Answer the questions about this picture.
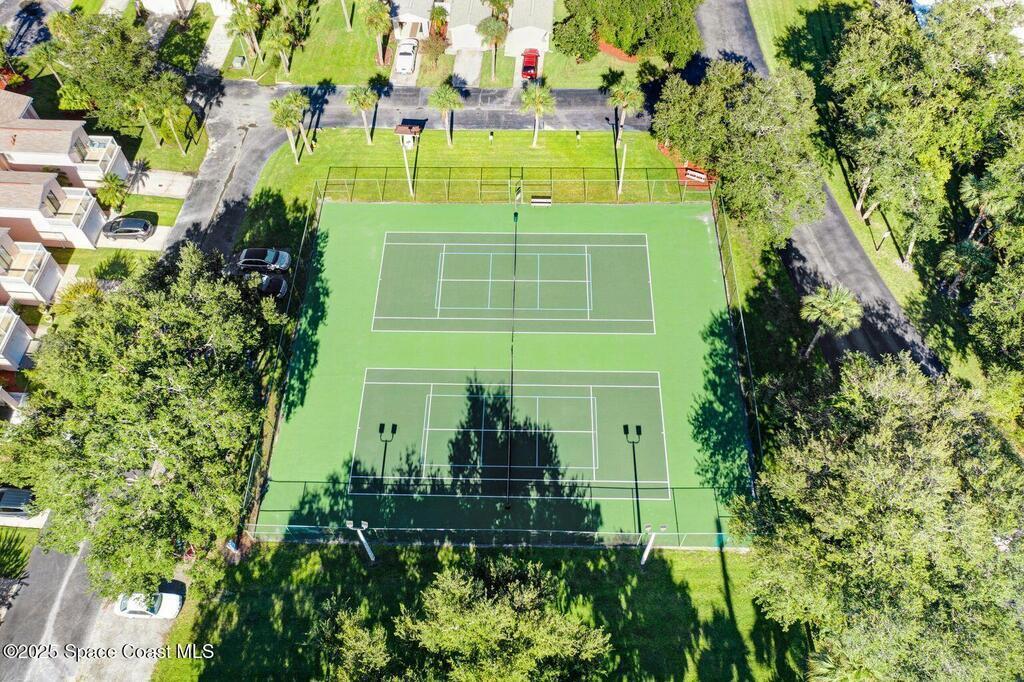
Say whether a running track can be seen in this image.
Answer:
No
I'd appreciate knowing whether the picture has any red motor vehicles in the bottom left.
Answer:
No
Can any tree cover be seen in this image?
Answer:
Yes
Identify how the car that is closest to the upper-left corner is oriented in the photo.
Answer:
from side to side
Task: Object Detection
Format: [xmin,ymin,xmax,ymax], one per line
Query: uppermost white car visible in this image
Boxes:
[393,41,416,74]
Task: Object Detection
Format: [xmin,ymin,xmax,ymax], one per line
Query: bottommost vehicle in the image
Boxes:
[111,590,183,622]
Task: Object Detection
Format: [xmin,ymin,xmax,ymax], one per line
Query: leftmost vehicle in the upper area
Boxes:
[101,218,156,244]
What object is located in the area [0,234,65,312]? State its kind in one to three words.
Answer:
house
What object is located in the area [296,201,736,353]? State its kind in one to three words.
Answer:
tennis court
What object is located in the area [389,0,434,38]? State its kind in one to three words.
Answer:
house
